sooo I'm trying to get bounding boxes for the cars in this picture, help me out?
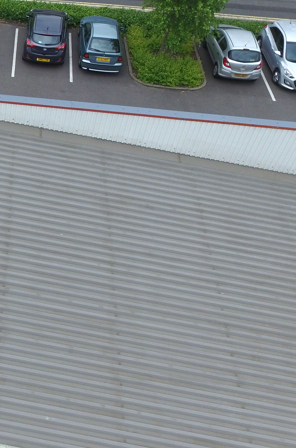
[24,12,70,66]
[207,29,263,82]
[79,19,125,73]
[262,21,296,89]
